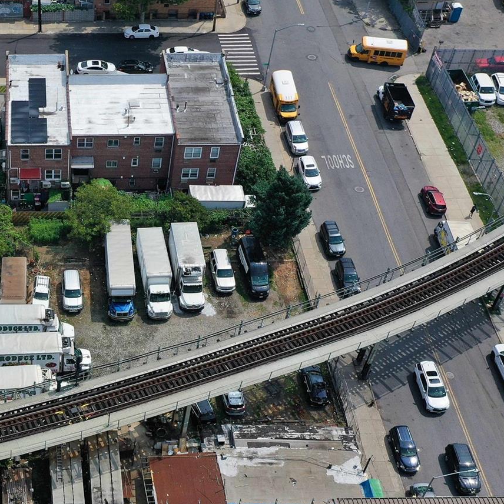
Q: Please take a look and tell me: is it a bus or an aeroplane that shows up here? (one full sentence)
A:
I can see a bus in this picture.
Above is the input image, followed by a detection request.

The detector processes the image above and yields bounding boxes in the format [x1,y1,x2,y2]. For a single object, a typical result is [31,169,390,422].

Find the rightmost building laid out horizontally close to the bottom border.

[193,425,387,504]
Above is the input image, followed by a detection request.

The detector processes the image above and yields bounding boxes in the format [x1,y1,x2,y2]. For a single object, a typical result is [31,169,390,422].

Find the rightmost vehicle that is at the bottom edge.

[439,435,488,498]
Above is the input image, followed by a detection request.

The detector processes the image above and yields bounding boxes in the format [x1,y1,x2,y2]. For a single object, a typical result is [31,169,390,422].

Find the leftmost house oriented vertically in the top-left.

[7,52,72,199]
